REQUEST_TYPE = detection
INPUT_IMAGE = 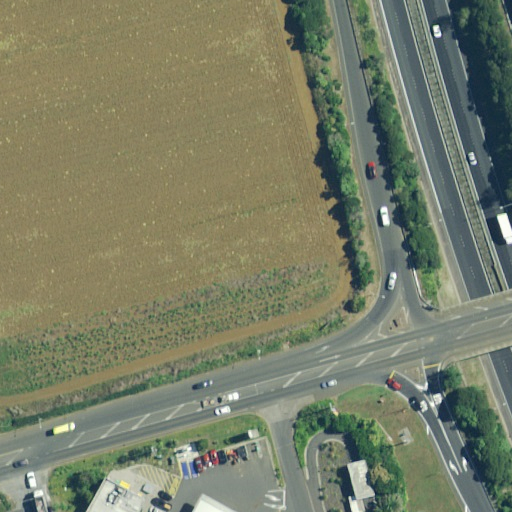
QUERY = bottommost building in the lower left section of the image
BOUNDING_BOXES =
[86,478,144,512]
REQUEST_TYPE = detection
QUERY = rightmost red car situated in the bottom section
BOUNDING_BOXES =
[386,378,402,391]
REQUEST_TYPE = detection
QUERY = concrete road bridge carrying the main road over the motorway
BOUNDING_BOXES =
[438,290,512,364]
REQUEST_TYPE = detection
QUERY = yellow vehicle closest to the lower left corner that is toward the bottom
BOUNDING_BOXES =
[52,421,76,435]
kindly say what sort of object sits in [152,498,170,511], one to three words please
vehicle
